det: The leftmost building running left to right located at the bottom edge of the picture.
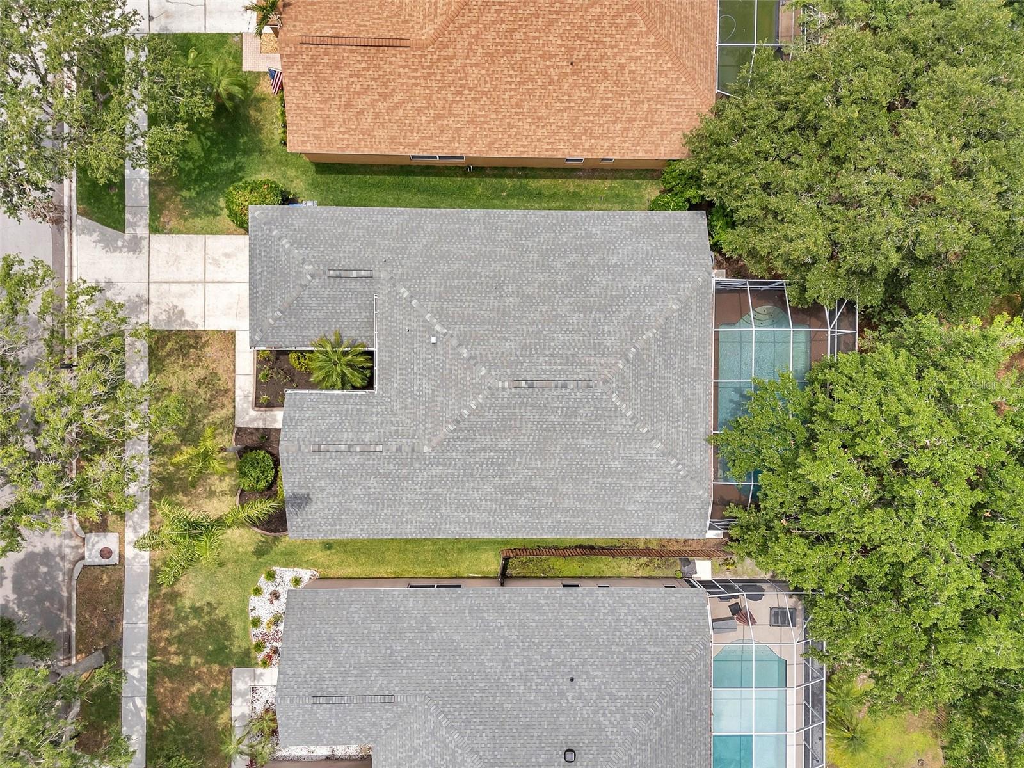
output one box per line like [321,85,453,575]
[277,579,712,768]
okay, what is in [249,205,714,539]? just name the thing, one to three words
house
